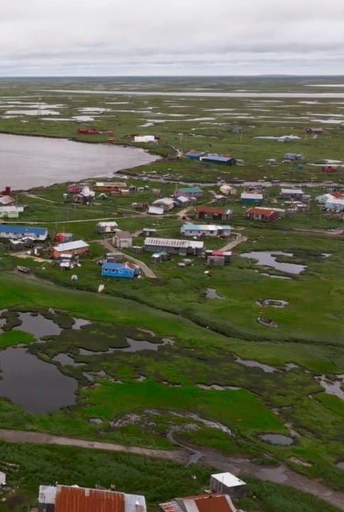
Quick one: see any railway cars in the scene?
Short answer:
No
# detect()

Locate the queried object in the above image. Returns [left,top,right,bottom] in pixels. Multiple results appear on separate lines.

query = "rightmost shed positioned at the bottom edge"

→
[218,476,249,498]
